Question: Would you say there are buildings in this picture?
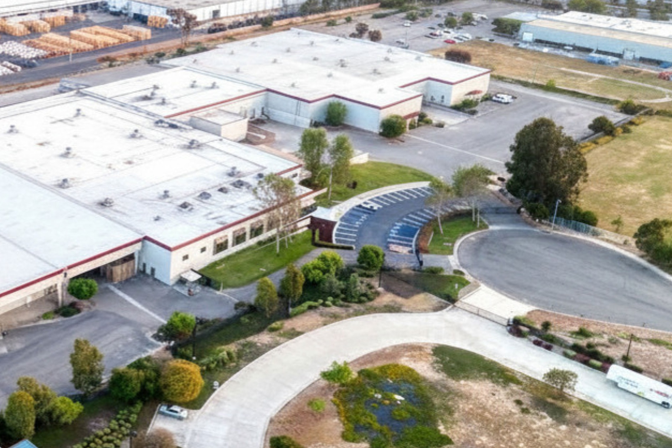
Yes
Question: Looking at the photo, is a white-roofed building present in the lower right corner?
No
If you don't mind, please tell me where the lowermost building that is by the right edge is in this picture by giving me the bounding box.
[516,14,672,74]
